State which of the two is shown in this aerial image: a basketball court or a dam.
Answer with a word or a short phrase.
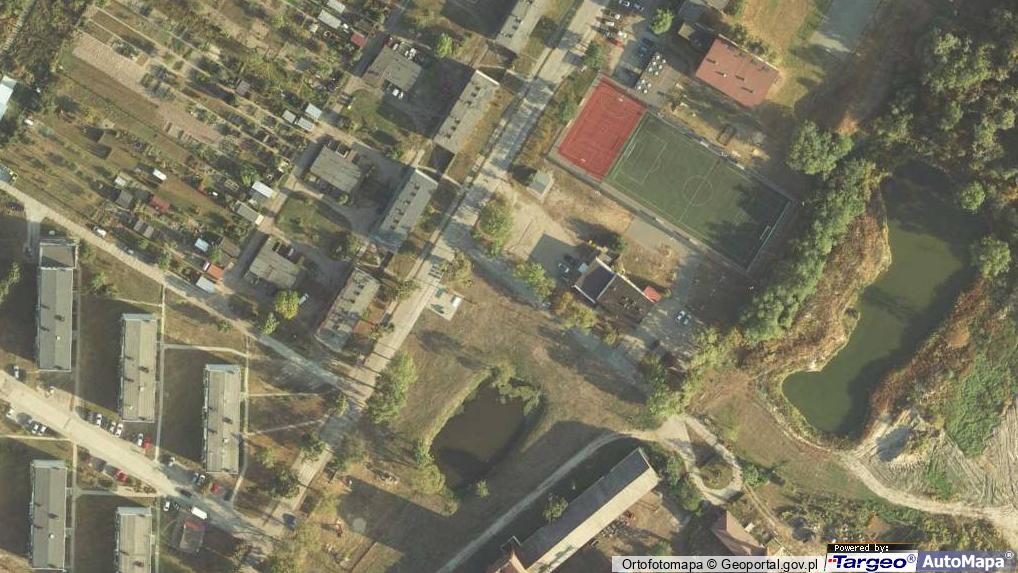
basketball court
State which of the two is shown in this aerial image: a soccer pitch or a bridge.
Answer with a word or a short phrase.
soccer pitch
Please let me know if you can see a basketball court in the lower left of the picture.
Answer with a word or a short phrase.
No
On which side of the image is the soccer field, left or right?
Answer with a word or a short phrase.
right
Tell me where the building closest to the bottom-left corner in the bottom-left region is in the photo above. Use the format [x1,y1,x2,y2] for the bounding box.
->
[31,461,70,570]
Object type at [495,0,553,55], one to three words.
house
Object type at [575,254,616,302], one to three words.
building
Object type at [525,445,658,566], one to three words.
barn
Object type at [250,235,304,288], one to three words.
shed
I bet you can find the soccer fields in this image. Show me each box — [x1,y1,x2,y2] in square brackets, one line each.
[605,113,791,268]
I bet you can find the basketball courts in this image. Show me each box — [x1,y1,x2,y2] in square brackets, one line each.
[560,82,645,180]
